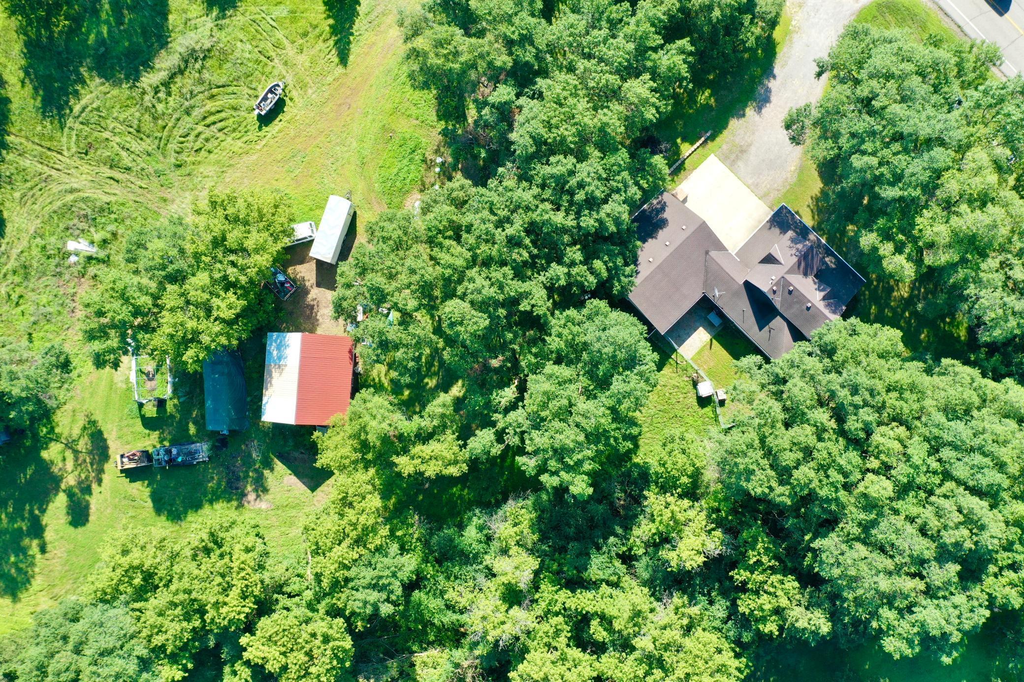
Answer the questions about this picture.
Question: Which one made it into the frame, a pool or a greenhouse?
greenhouse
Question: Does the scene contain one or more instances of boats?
Yes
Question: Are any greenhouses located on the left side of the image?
Yes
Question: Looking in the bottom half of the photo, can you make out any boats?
No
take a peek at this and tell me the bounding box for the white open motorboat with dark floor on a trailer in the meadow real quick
[252,78,284,121]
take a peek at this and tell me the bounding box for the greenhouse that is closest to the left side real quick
[131,355,179,404]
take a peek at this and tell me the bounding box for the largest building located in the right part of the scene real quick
[596,191,867,354]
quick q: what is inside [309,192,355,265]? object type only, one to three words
trailer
